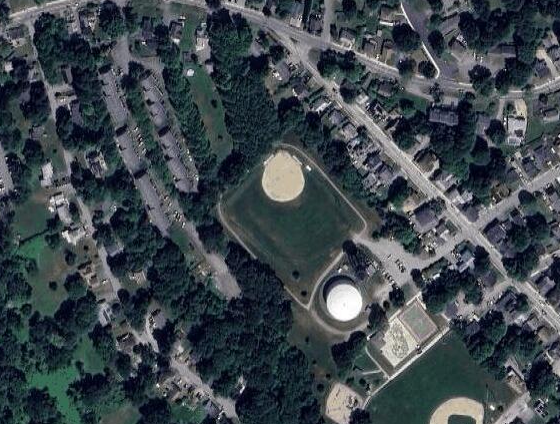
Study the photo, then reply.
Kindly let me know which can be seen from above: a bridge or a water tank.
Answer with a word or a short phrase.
water tank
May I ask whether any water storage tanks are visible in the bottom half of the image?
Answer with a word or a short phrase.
Yes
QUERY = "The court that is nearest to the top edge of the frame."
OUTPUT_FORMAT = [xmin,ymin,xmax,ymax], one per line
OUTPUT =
[398,299,438,342]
